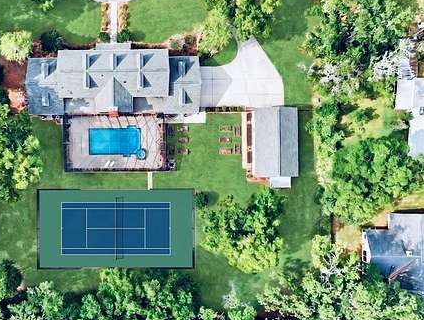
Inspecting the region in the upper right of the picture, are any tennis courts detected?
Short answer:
No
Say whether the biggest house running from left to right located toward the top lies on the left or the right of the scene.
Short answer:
left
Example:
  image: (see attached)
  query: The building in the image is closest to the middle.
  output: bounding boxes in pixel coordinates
[249,105,298,188]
